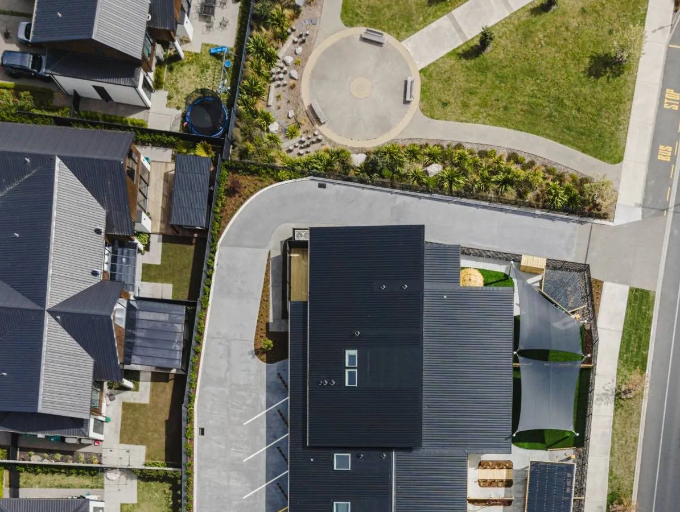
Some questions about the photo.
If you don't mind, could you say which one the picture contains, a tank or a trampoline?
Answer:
trampoline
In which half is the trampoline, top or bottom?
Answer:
top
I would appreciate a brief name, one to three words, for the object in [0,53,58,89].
car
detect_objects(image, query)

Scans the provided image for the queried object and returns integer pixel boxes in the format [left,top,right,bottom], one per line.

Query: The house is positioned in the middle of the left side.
[0,123,149,438]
